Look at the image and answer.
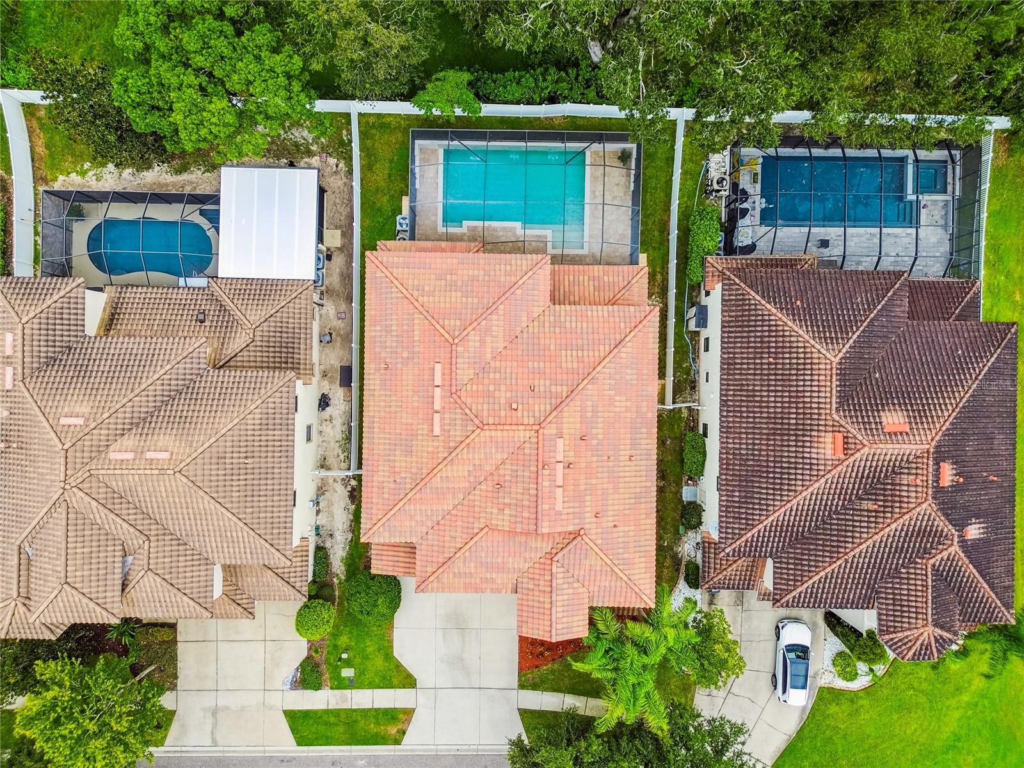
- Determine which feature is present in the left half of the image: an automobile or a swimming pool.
swimming pool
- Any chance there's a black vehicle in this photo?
No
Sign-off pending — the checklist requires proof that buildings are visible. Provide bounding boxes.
[359,239,662,643]
[696,255,1020,663]
[0,275,320,641]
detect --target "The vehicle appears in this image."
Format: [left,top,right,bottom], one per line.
[769,614,820,703]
